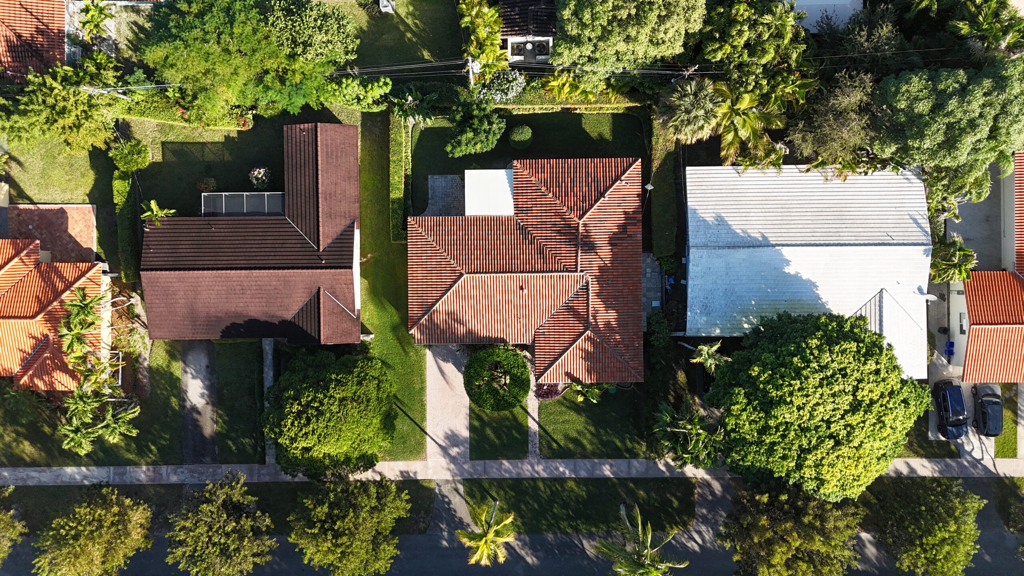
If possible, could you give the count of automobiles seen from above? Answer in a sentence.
The number of automobiles here is 2.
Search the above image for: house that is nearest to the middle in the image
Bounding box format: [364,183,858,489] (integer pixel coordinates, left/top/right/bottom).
[407,157,645,383]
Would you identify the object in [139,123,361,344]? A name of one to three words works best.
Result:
house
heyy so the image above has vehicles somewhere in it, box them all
[938,379,974,437]
[975,383,1007,435]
